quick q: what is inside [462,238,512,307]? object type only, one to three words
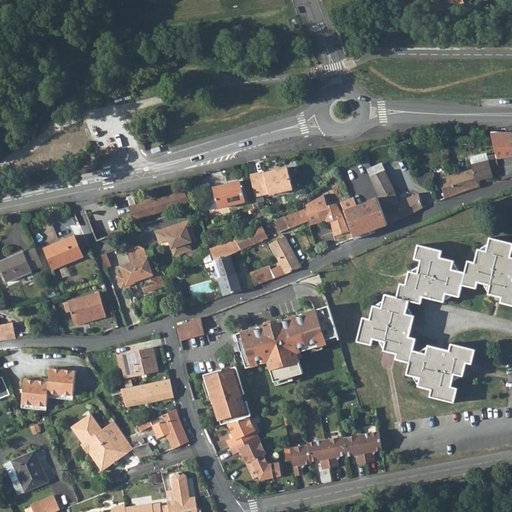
building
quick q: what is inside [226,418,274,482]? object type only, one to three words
house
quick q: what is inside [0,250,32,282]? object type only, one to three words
house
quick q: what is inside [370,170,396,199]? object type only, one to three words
building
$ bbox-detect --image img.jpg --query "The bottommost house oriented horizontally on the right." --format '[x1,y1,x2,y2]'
[284,432,380,478]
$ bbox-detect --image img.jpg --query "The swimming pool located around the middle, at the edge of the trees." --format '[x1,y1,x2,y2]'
[190,280,213,295]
